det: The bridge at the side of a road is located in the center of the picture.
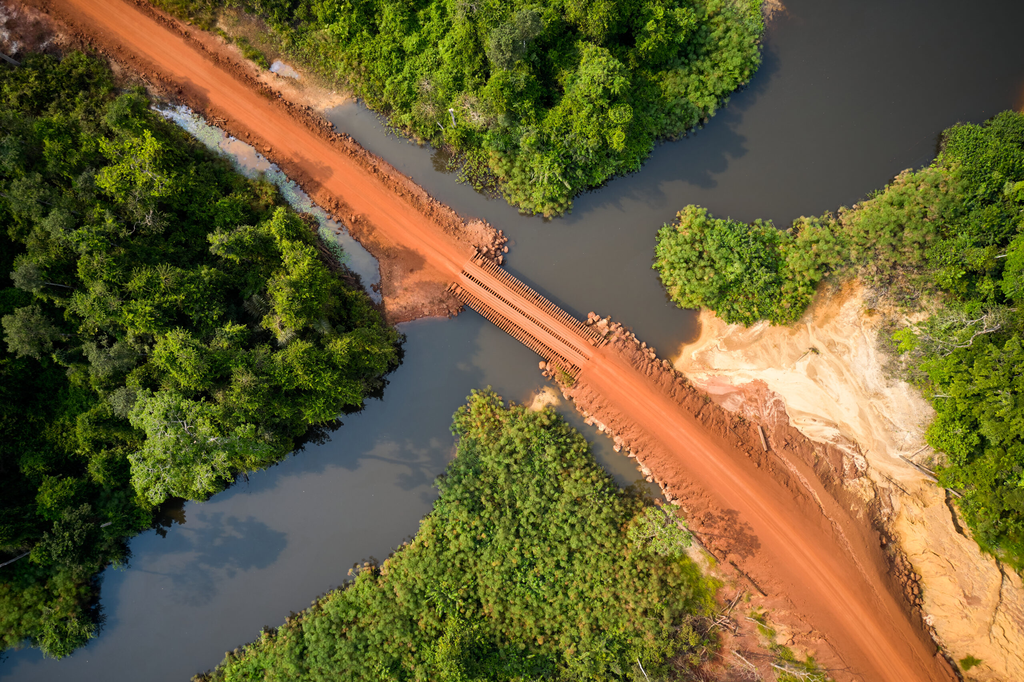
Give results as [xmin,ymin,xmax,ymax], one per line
[443,245,611,387]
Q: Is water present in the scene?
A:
Yes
